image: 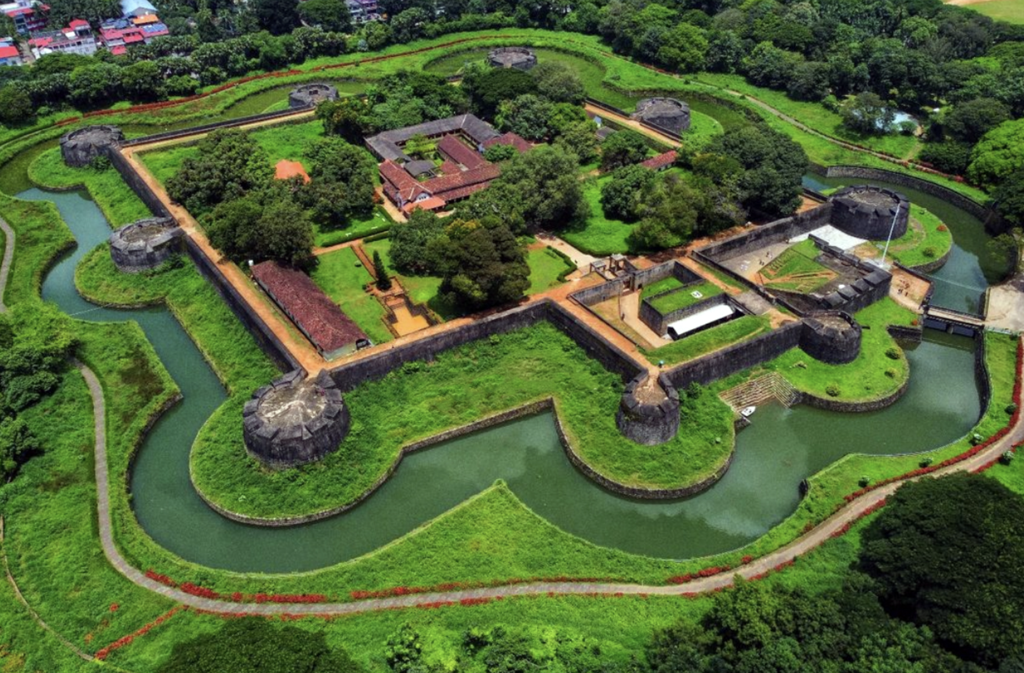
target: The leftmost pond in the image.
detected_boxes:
[370,290,443,335]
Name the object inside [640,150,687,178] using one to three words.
shed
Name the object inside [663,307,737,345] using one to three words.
shed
